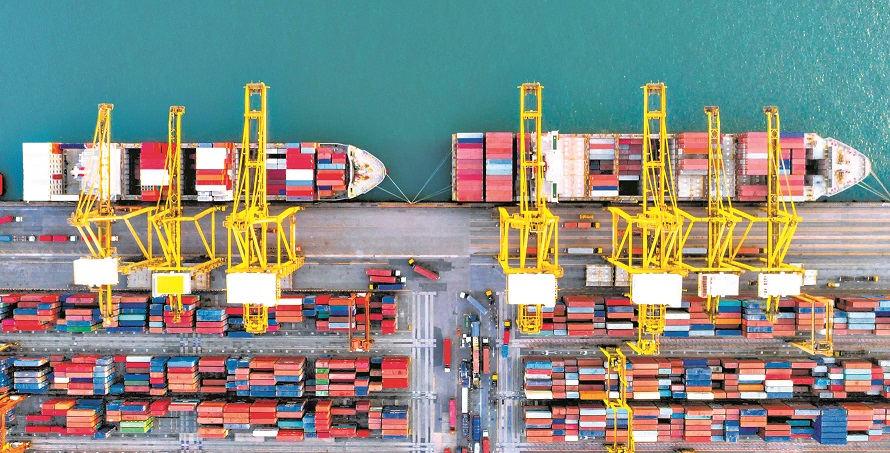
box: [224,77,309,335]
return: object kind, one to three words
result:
container crane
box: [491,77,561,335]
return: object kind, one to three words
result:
container crane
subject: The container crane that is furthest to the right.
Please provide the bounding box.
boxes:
[786,292,833,356]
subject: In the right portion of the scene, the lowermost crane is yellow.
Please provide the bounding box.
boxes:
[601,398,634,453]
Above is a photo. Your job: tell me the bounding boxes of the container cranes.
[654,106,747,323]
[347,292,375,353]
[786,292,833,356]
[224,77,309,335]
[65,106,175,323]
[595,345,628,409]
[601,398,634,453]
[491,77,561,335]
[625,292,662,356]
[599,77,687,335]
[142,106,236,323]
[706,106,812,323]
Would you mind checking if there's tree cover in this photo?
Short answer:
No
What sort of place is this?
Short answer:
port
